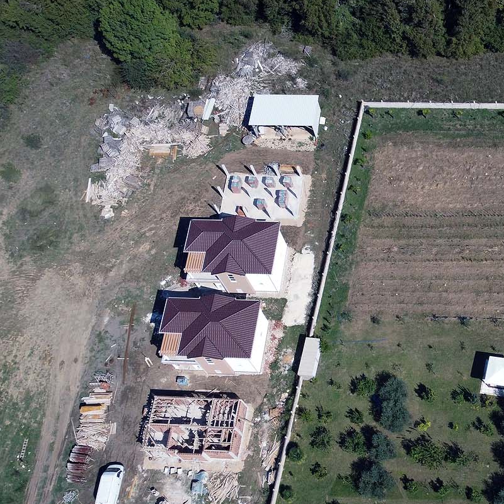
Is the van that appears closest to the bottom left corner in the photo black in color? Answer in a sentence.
No, the van that appears closest to the bottom left corner is actually white.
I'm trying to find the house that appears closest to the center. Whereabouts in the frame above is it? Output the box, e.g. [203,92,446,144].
[182,215,287,294]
